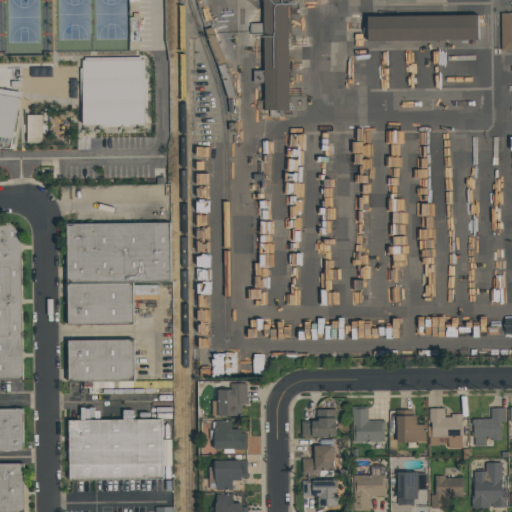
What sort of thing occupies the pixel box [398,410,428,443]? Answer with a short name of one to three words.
house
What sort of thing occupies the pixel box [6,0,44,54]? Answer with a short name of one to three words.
basketball court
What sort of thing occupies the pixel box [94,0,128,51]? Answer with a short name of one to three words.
basketball court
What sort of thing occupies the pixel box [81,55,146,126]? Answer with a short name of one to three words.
building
